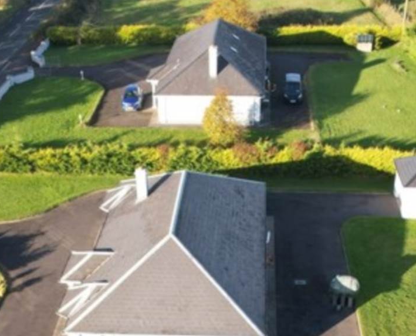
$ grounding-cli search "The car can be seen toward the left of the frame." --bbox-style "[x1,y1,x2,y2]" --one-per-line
[119,84,143,108]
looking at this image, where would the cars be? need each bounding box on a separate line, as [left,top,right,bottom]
[119,84,143,108]
[281,74,303,100]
